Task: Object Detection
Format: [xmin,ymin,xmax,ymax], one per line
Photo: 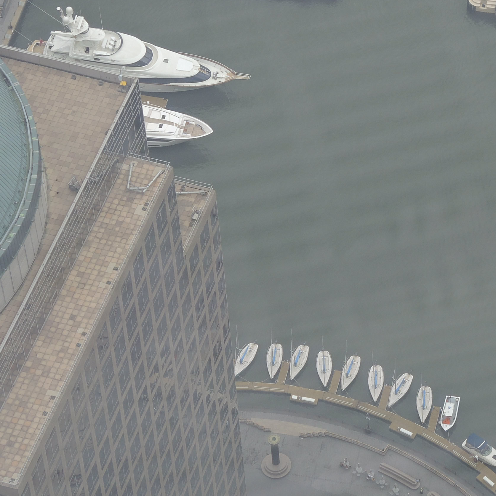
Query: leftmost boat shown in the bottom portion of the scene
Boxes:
[235,333,257,377]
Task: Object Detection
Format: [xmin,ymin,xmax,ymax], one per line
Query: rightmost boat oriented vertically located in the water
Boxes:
[439,396,459,433]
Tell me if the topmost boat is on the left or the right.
left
